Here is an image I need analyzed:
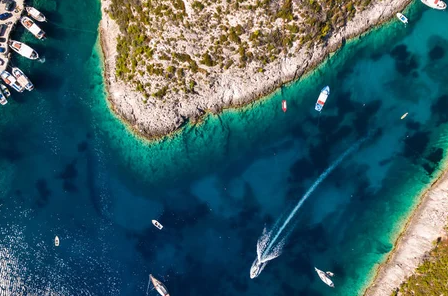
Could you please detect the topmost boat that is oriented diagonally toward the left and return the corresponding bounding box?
[23,4,46,21]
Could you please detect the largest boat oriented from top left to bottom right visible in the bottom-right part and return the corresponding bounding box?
[315,268,336,290]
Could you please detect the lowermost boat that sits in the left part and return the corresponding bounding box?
[144,275,170,296]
